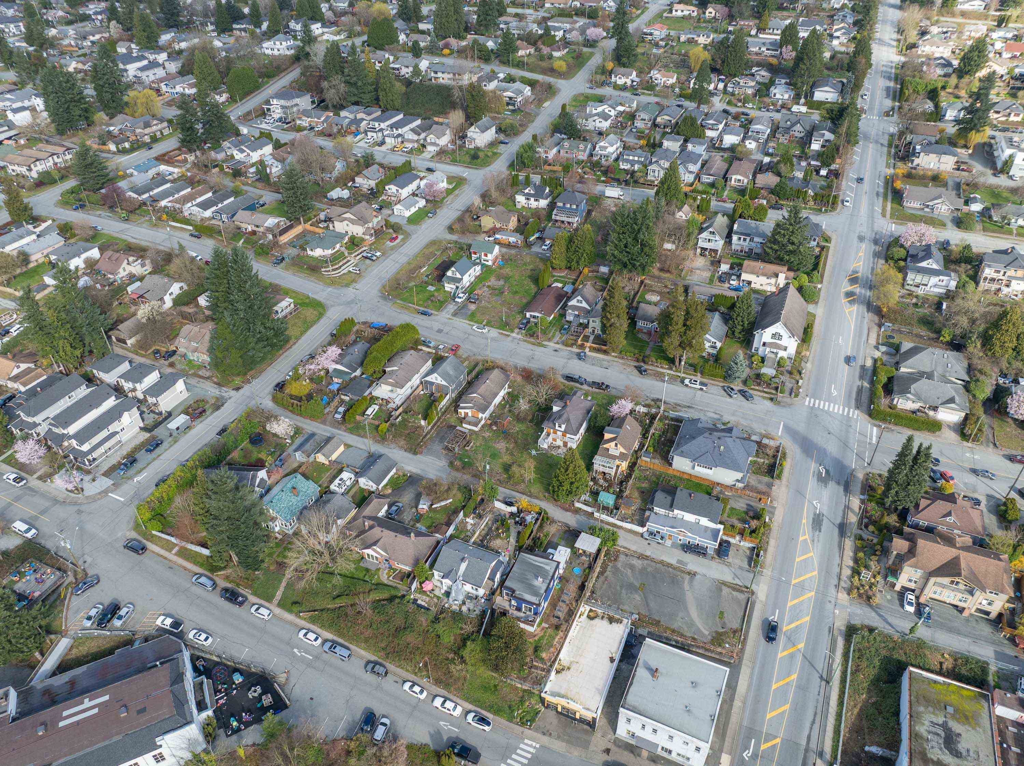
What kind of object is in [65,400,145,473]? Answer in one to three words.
house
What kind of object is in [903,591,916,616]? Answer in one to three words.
vehicle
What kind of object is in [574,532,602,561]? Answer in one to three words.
shed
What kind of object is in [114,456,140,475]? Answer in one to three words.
vehicle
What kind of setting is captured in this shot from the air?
residential area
